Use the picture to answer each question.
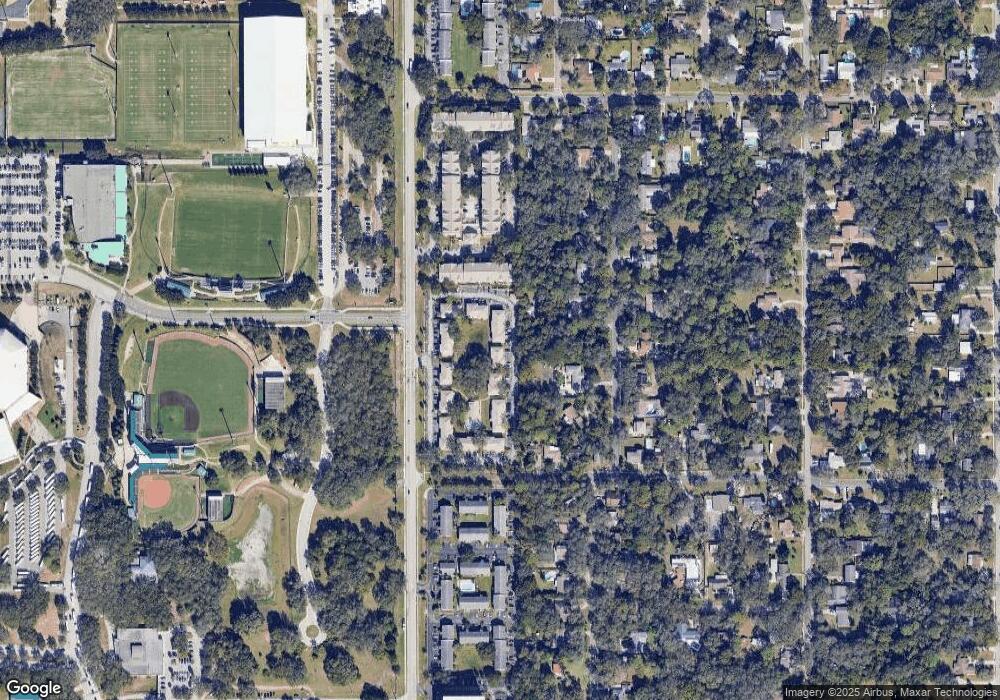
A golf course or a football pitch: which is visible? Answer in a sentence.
Visible in the photo is a football pitch.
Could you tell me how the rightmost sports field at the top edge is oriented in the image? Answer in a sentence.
Seen from above, the rightmost sports field at the top edge lies from top to bottom.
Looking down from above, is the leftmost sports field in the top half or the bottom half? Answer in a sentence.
It is in the top half that the leftmost sports field appears.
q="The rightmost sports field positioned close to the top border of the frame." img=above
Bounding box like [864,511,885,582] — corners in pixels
[179,25,235,150]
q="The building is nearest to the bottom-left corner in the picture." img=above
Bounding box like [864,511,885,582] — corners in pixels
[114,629,163,675]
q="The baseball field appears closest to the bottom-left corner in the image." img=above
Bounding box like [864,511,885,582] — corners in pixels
[136,474,200,532]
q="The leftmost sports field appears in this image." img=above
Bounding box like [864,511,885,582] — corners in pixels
[8,50,115,139]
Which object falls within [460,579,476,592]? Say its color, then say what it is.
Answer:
white swimming pool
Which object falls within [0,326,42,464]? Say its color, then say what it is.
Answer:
white stadium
